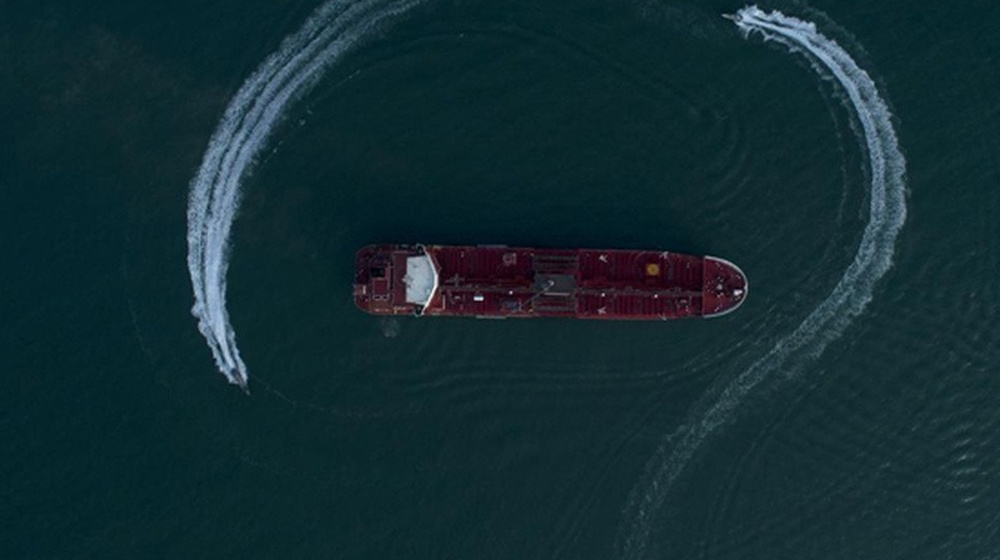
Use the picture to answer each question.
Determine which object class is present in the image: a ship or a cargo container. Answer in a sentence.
This aerial view contains a ship.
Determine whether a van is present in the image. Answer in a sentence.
No, no van is visible in the view.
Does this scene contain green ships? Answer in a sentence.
No, the scene contains no green ship.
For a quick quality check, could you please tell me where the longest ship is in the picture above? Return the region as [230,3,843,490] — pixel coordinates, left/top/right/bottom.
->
[354,242,749,321]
